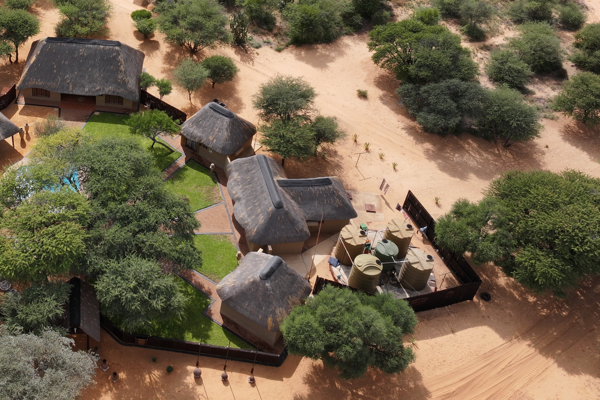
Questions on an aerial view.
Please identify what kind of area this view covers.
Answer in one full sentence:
The area seen from above is an industrial area.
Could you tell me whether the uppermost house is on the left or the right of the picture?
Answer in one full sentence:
The uppermost house appears in the left half of the scene.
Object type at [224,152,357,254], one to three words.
building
